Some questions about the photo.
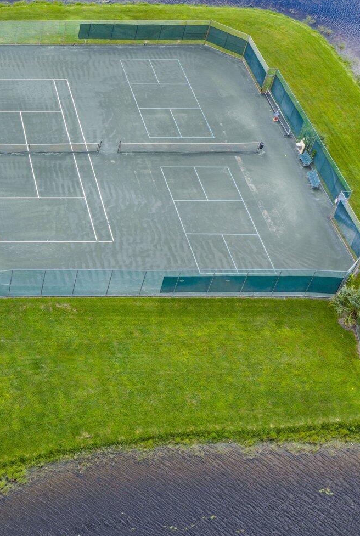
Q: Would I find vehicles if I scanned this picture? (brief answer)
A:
No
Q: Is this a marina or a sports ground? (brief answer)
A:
sports ground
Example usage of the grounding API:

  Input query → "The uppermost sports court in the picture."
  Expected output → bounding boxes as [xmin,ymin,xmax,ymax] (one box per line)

[86,44,300,153]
